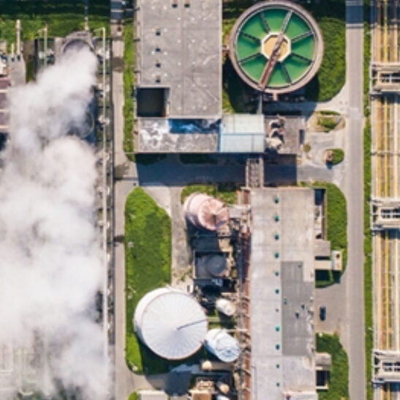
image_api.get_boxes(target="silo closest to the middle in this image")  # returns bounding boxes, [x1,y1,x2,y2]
[179,195,231,235]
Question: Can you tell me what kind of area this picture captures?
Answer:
industrial area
